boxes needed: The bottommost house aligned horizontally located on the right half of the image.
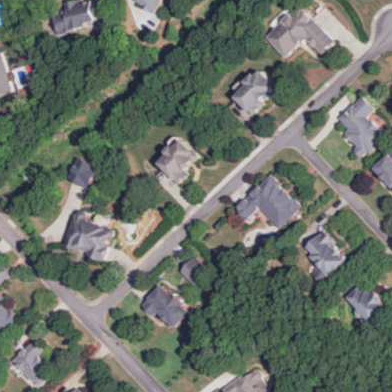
[219,370,270,392]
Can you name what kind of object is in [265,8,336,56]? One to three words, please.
house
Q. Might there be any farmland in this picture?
No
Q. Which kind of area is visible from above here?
residential area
